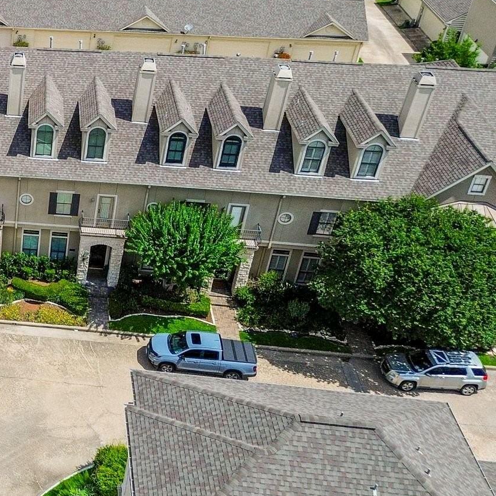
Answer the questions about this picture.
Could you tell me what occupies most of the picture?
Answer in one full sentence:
The largest share of the image is taken up by buildings.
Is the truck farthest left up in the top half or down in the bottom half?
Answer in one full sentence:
Seen from above, the truck farthest left lies in the bottom half of the view.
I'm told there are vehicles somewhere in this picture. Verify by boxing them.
[140,324,260,377]
[375,343,496,396]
